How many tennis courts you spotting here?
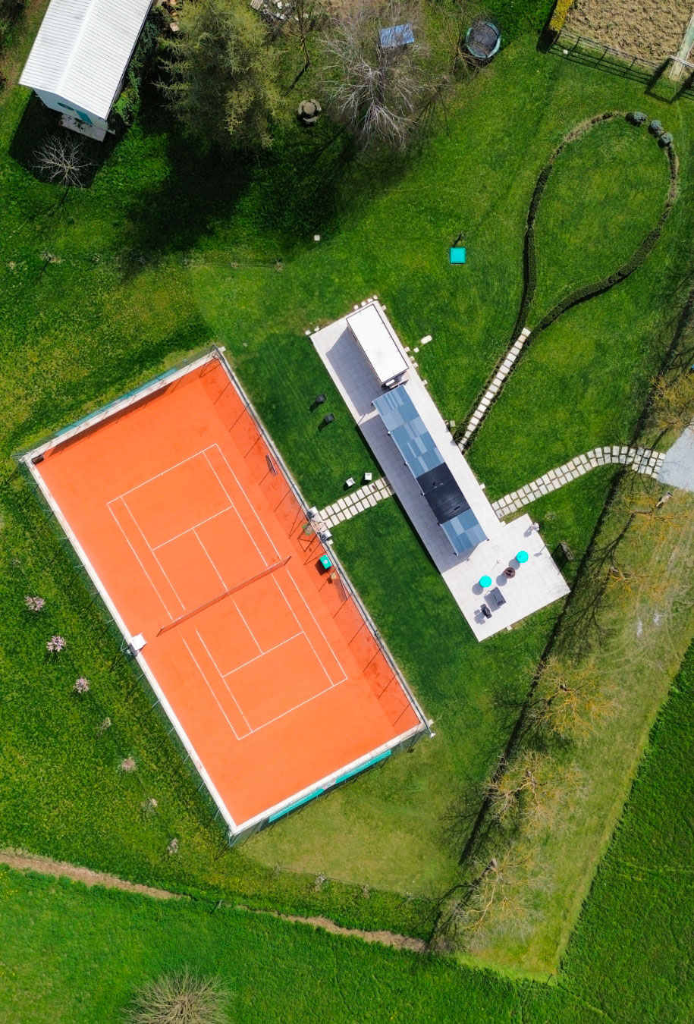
one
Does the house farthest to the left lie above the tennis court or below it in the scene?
above it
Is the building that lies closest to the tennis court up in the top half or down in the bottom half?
top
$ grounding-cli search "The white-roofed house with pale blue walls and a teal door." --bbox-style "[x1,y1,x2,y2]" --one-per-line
[19,0,163,131]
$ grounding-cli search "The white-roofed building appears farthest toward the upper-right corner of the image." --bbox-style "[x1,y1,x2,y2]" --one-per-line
[346,305,408,387]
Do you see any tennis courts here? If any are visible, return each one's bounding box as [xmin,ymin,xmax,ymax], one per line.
[24,348,431,834]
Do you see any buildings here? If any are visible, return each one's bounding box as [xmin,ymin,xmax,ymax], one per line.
[346,305,408,387]
[19,0,163,131]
